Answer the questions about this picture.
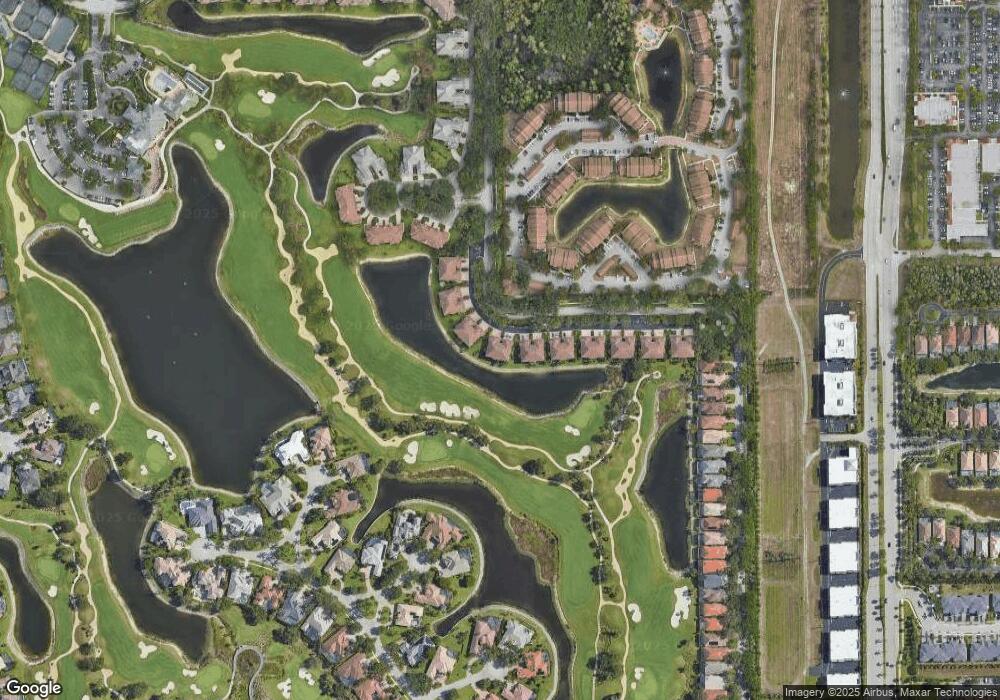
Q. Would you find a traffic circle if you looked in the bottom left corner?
No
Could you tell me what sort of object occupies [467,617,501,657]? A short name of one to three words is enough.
house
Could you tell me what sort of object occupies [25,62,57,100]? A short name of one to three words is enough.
tennis court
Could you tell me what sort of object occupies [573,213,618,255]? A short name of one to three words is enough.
building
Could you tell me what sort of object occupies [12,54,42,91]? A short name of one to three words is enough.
tennis court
